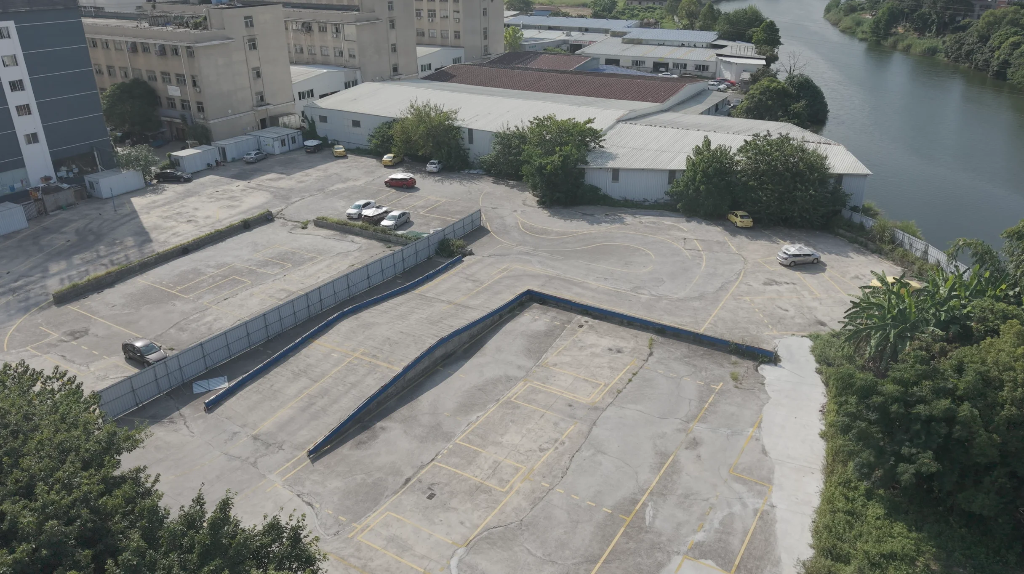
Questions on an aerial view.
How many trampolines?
0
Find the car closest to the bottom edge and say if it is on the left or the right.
left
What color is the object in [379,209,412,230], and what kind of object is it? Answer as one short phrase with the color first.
gray car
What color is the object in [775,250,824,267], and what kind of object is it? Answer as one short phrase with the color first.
gray car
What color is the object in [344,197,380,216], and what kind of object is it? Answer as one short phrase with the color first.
white car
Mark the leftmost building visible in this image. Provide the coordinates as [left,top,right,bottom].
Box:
[0,202,28,235]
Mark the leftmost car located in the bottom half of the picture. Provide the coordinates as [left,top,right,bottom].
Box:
[117,335,172,367]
